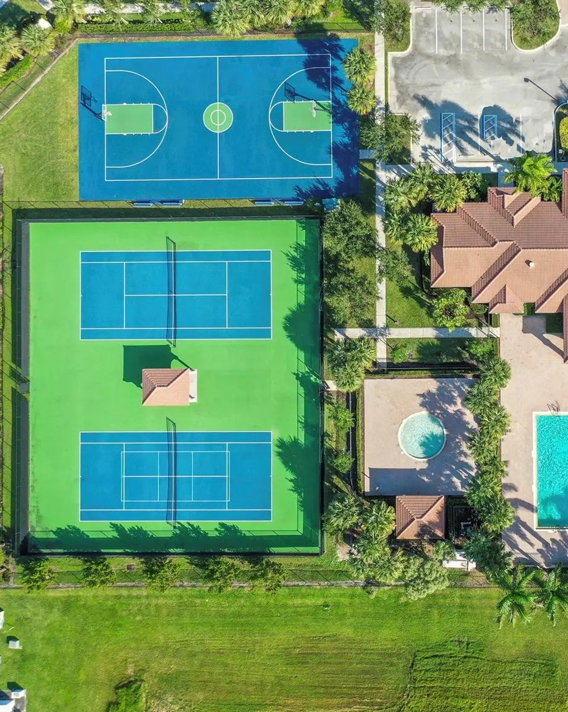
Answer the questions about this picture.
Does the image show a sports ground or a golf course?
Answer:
sports ground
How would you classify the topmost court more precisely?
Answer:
basketball court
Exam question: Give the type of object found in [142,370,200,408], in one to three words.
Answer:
gazebo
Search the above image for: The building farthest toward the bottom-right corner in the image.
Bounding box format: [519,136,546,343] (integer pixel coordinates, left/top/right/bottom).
[394,498,446,542]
